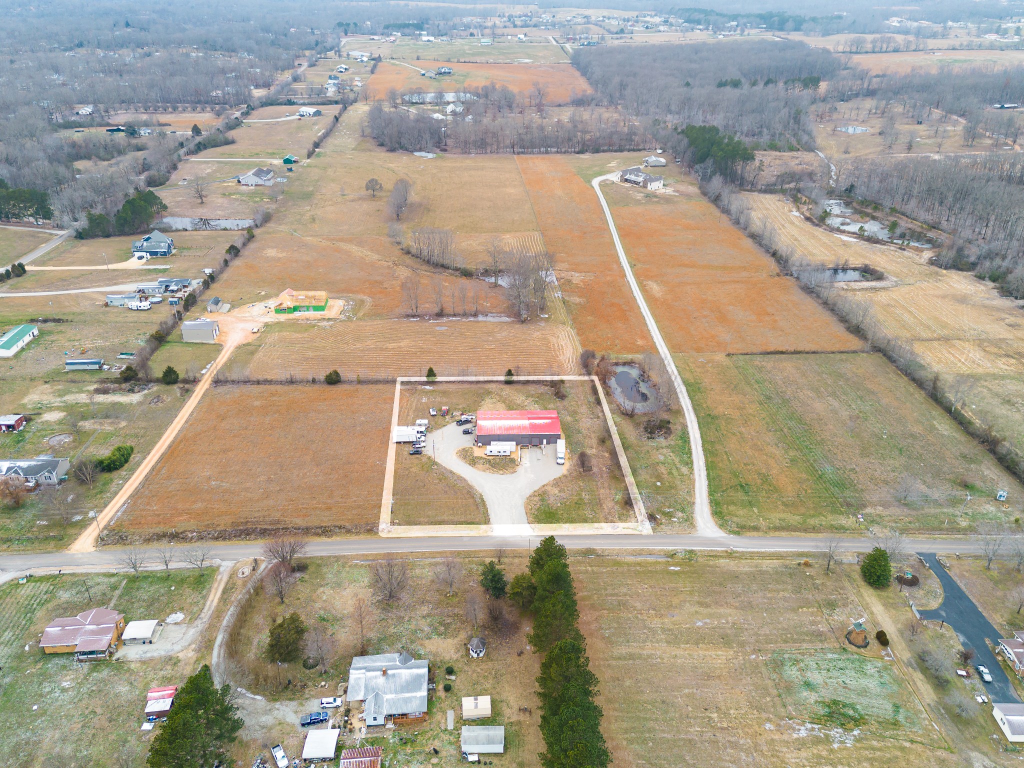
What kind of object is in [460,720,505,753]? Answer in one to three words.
shed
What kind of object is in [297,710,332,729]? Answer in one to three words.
vehicle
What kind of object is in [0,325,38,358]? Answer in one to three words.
house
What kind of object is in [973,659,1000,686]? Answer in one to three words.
truck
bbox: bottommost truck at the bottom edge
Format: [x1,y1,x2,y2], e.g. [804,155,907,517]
[268,738,291,768]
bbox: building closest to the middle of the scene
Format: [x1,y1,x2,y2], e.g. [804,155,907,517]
[476,408,563,446]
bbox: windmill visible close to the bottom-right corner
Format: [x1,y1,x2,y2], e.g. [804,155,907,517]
[845,621,873,651]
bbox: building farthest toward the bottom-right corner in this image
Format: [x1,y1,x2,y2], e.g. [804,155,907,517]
[984,694,1024,743]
